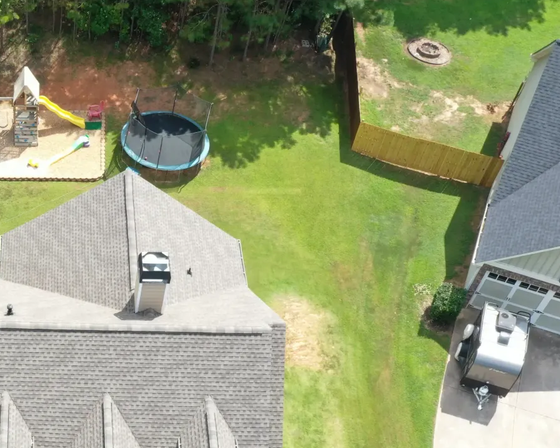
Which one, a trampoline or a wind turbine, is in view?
trampoline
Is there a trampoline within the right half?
No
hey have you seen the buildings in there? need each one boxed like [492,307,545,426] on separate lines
[462,34,560,334]
[0,169,288,448]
